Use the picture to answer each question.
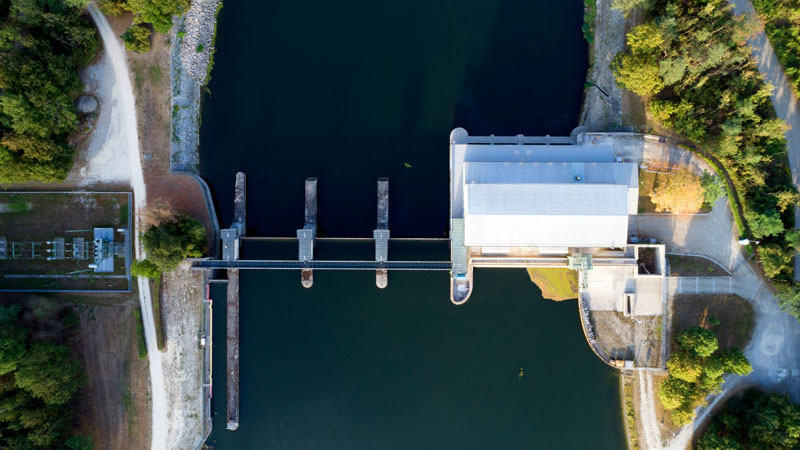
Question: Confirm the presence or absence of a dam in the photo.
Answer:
Yes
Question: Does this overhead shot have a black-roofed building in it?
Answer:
No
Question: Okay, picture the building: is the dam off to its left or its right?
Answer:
on its left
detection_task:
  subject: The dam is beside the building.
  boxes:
[222,172,448,289]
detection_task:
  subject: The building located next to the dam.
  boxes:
[448,126,639,272]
